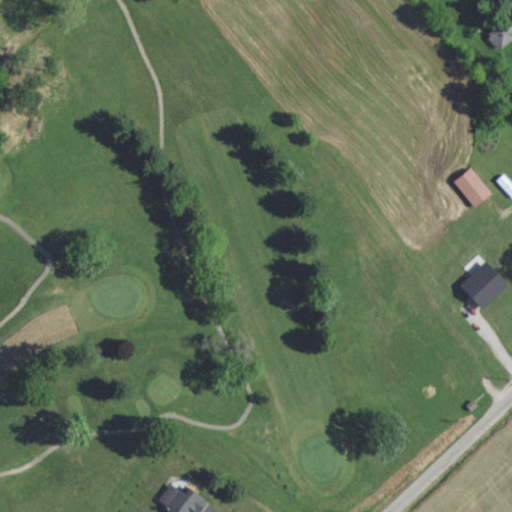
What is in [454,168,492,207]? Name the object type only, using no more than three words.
barn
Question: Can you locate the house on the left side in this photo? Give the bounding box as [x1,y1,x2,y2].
[159,474,208,512]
